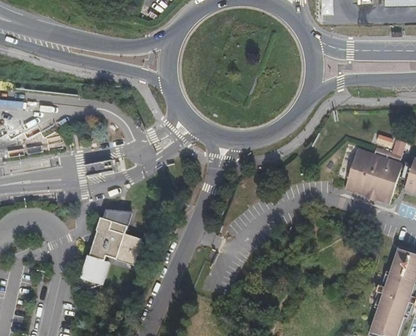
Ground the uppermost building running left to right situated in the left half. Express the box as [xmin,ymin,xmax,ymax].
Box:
[86,158,114,176]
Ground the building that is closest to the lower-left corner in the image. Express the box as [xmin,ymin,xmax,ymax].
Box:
[82,256,110,286]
